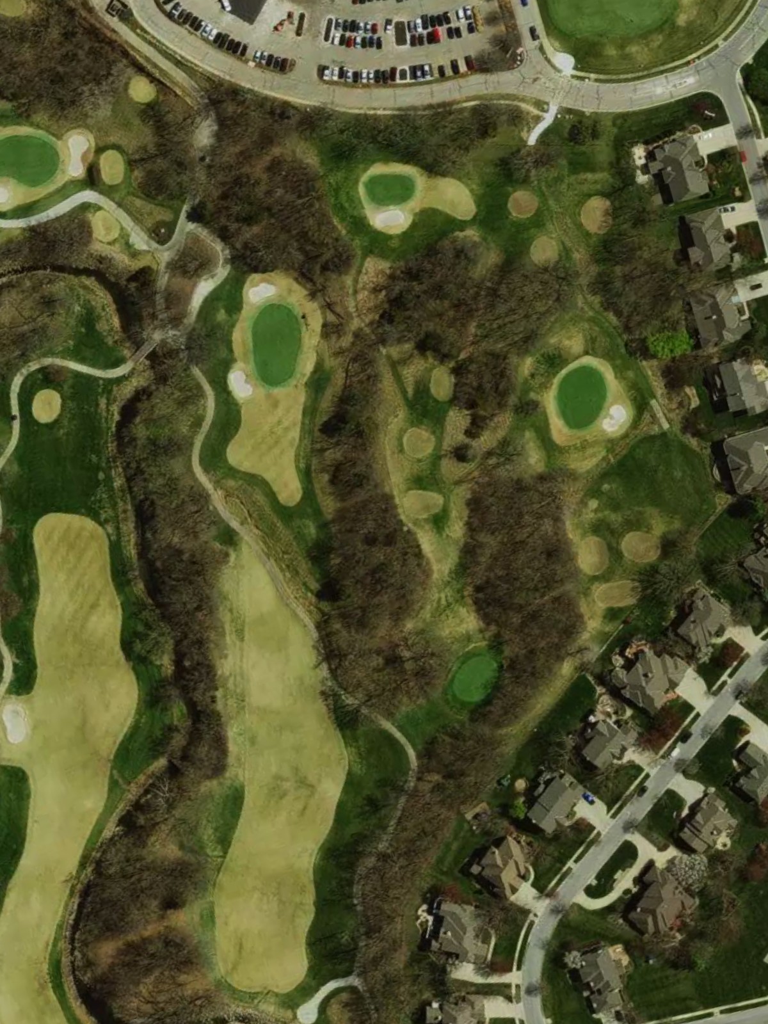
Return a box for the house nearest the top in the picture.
[647,130,717,203]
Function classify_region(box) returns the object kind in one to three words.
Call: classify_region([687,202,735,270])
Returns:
house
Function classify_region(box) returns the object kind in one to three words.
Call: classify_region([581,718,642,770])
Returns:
house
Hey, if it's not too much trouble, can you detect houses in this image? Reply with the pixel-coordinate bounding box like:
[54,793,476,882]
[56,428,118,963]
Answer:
[680,588,733,651]
[631,860,699,937]
[678,787,742,853]
[619,649,698,716]
[478,833,529,901]
[721,428,768,495]
[737,739,768,807]
[685,278,755,350]
[526,767,590,833]
[430,894,493,967]
[581,718,642,770]
[424,989,489,1024]
[687,202,735,270]
[719,360,768,419]
[647,130,717,203]
[580,947,625,1021]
